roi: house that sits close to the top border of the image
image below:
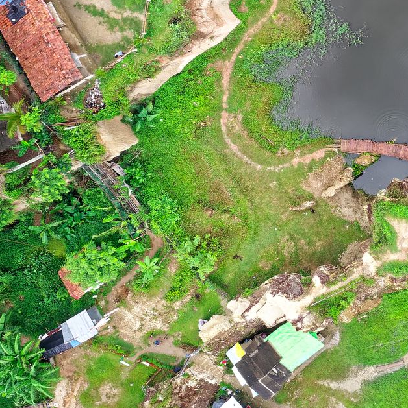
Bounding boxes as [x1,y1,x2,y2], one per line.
[0,0,85,101]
